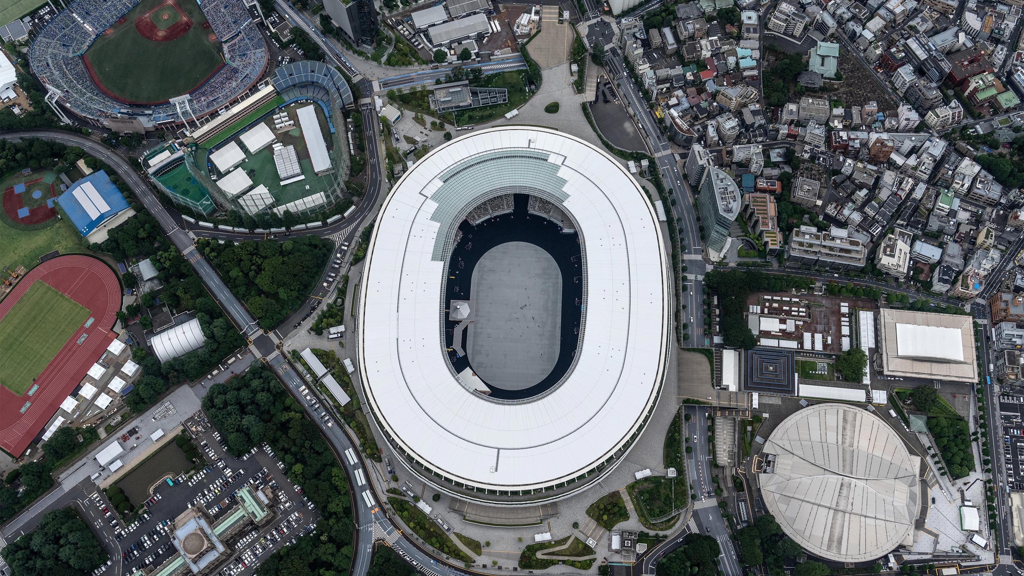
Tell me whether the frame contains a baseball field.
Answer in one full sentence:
Yes, looking at the shot, I can spot a baseball field.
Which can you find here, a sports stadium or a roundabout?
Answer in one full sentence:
This aerial view contains a sports stadium.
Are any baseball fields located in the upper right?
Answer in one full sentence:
No, no baseball field is visible in the upper right.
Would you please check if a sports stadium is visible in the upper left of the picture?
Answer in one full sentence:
Yes, a sports stadium can be seen in the upper left of the picture.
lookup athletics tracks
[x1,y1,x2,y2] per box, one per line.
[0,254,125,458]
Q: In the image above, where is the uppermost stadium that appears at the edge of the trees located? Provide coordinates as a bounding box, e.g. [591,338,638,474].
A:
[31,0,270,131]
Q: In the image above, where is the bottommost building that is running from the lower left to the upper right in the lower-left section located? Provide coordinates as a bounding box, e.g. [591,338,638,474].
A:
[128,485,281,576]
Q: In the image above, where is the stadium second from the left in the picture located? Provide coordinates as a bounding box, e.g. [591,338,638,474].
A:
[192,60,355,214]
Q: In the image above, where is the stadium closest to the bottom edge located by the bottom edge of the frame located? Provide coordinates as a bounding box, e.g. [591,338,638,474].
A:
[760,404,921,562]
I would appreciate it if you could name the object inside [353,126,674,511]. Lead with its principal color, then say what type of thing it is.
white stadium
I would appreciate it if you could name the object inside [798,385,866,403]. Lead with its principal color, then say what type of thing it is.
white tent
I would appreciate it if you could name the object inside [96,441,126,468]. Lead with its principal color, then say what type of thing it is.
white tent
